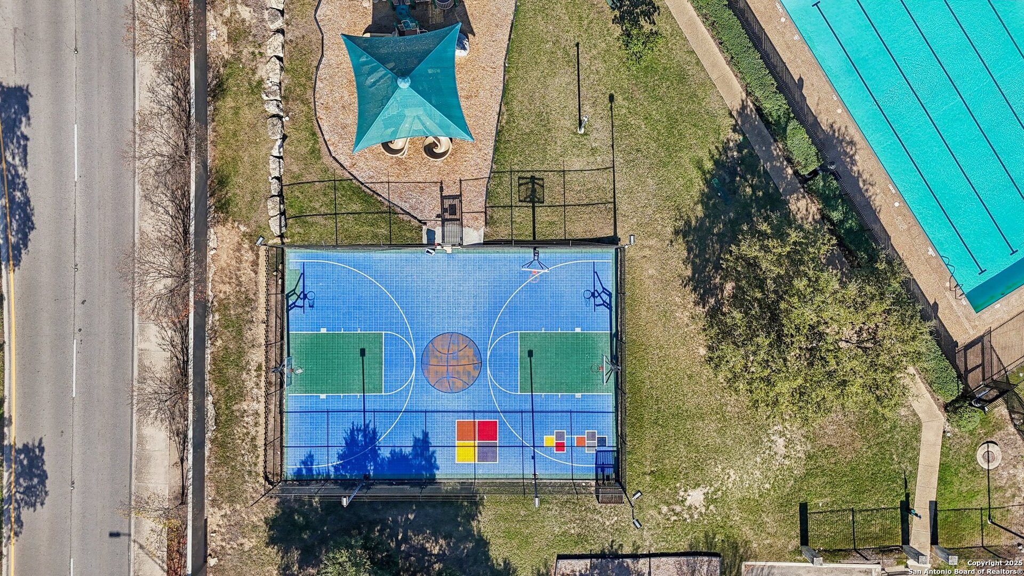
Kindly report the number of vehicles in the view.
0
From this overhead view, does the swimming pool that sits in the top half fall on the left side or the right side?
right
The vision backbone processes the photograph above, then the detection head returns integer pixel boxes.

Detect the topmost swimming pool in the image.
[774,0,1024,321]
